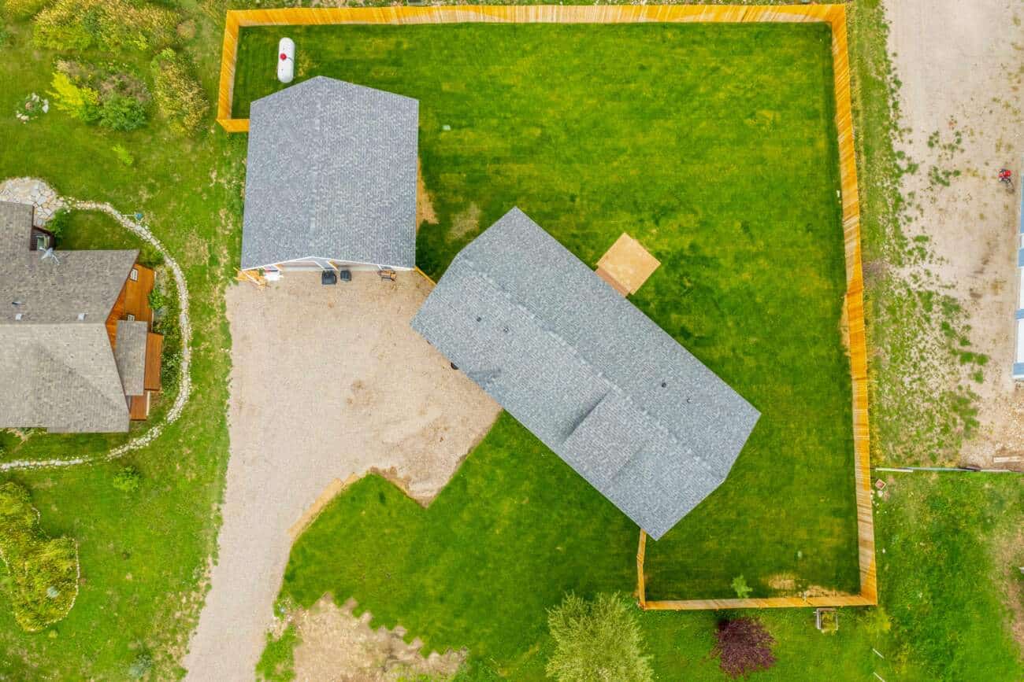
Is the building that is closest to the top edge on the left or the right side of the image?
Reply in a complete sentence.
The building that is closest to the top edge is on the left side of the image.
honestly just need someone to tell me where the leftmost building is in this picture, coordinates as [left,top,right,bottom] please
[0,202,149,432]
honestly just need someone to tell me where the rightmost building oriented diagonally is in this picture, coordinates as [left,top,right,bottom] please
[410,206,763,541]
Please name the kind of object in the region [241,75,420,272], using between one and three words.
building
